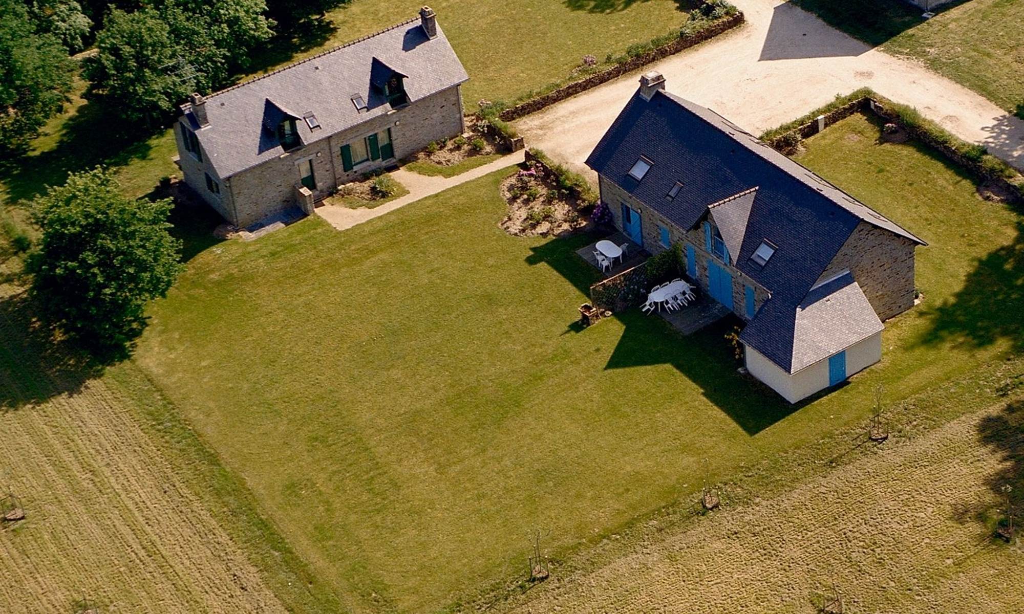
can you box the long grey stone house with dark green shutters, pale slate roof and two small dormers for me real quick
[161,2,469,228]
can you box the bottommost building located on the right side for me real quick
[584,67,925,404]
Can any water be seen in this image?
No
